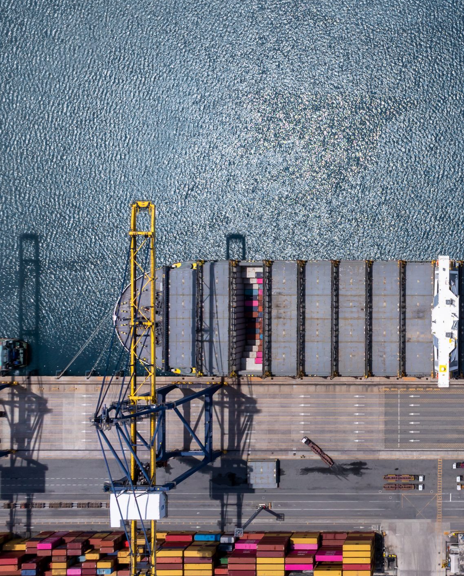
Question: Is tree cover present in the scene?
No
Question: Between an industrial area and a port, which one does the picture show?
port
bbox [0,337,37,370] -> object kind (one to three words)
ship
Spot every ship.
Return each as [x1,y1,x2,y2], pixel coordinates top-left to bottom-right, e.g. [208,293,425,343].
[111,256,464,387]
[0,337,37,370]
